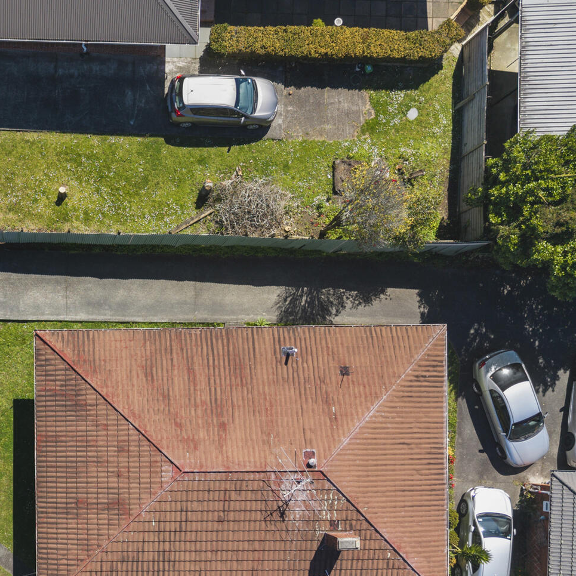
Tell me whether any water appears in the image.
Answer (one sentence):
No, the picture contains no water.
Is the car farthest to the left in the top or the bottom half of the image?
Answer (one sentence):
Seen from above, the car farthest to the left lies in the top half of the view.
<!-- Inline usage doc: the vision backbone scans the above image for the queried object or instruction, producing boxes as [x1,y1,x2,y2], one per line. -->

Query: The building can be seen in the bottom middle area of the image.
[31,322,451,576]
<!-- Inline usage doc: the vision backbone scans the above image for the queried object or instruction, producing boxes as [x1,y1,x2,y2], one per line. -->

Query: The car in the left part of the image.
[167,66,283,129]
